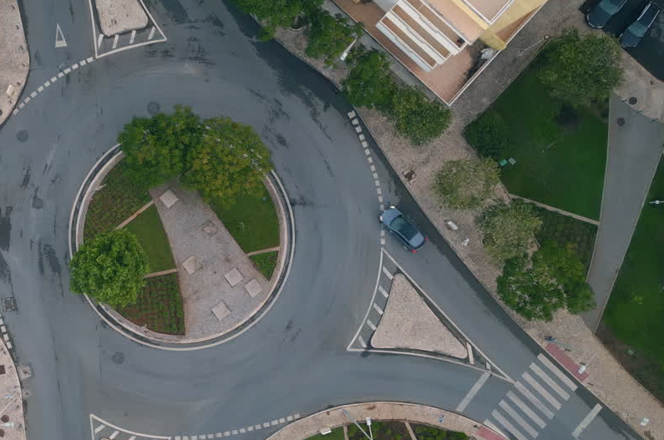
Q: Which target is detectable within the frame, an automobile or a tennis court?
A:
automobile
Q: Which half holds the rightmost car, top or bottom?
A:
top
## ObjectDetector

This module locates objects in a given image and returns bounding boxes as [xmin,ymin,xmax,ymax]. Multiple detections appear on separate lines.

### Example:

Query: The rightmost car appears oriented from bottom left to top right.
[617,0,664,51]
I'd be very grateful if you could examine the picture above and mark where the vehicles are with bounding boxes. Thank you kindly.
[378,206,428,253]
[617,0,664,51]
[587,0,626,27]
